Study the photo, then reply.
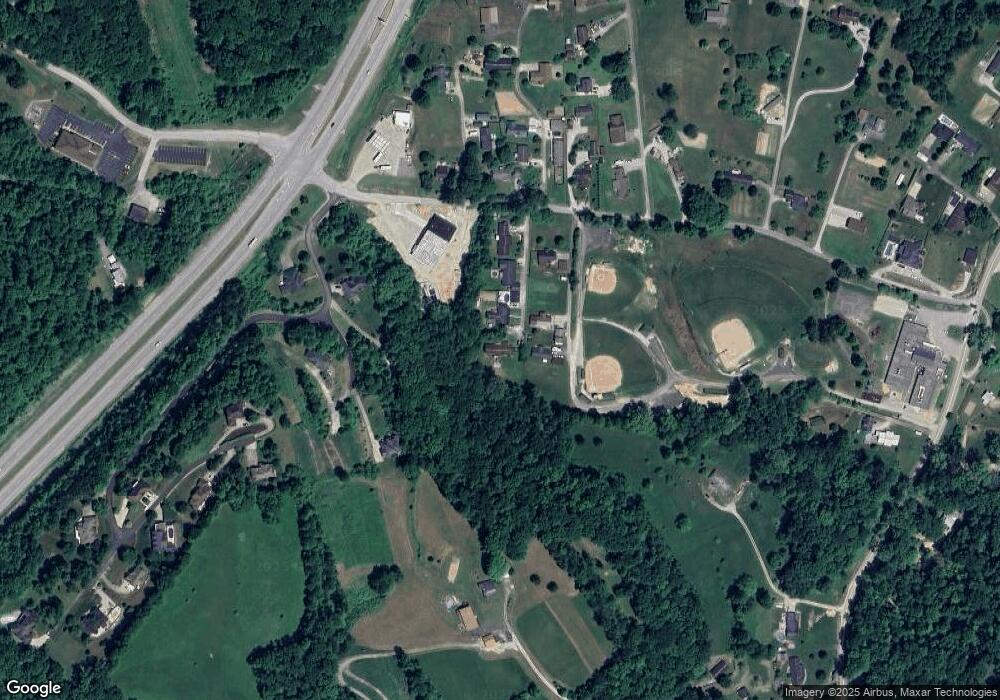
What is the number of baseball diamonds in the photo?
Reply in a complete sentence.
The count of baseball diamonds comes to 3.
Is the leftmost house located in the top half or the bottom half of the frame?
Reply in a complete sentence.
You can find the leftmost house in the bottom half.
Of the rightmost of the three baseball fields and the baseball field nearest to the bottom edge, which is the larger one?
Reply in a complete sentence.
The rightmost of the three baseball fields covers a greater area than the baseball field nearest to the bottom edge.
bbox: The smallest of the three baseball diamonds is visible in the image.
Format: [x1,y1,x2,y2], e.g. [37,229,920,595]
[583,258,644,317]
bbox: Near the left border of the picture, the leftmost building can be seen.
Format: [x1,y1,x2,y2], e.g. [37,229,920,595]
[9,610,37,638]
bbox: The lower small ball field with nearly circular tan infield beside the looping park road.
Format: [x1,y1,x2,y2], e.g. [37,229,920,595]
[579,323,660,399]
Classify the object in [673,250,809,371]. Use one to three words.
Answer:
baseball field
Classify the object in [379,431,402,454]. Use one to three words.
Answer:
house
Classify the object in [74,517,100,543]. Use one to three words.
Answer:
house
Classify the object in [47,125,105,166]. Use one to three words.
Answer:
building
